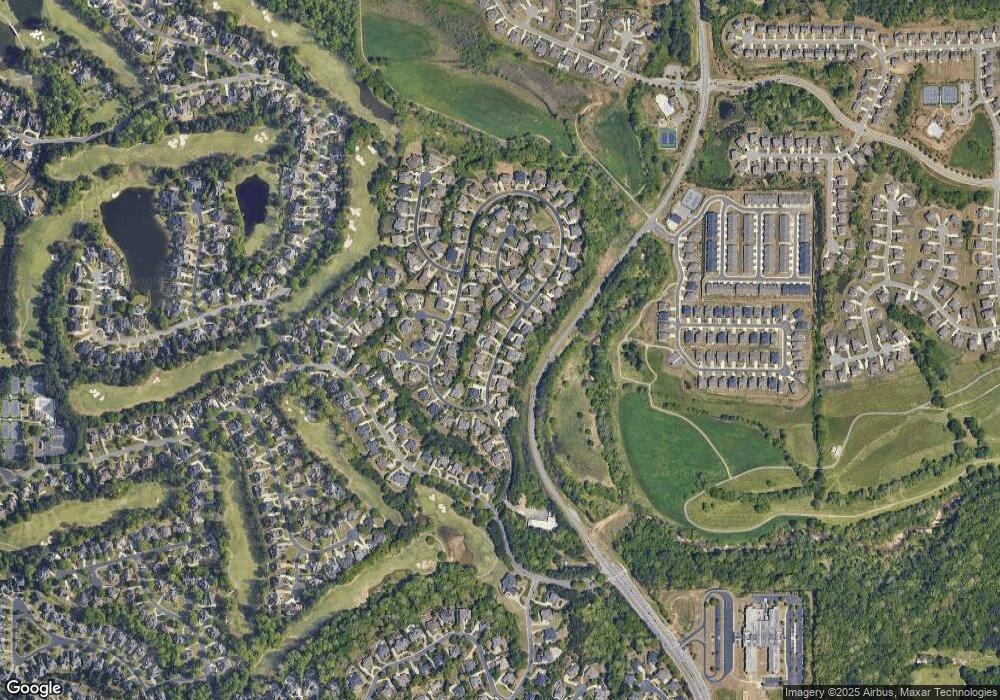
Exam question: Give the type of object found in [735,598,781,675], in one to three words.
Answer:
building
